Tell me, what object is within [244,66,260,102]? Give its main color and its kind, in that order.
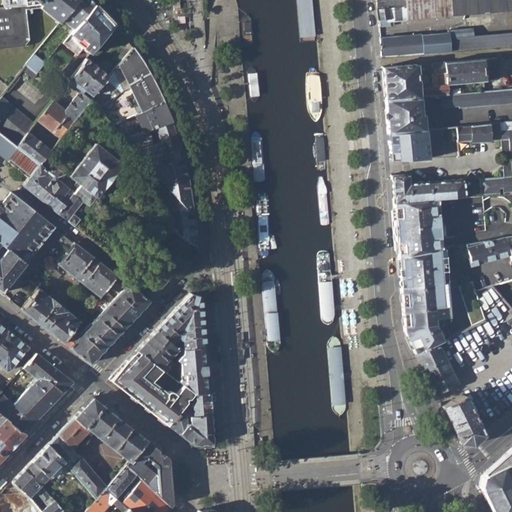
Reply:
white boat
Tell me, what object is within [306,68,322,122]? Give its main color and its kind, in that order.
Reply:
white boat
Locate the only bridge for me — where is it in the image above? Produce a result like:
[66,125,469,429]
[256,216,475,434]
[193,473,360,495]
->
[268,453,362,493]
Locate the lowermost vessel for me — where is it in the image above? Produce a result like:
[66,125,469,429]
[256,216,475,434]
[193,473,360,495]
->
[324,335,346,420]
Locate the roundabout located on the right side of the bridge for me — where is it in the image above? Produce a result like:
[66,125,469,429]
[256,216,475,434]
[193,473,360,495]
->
[400,447,440,488]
